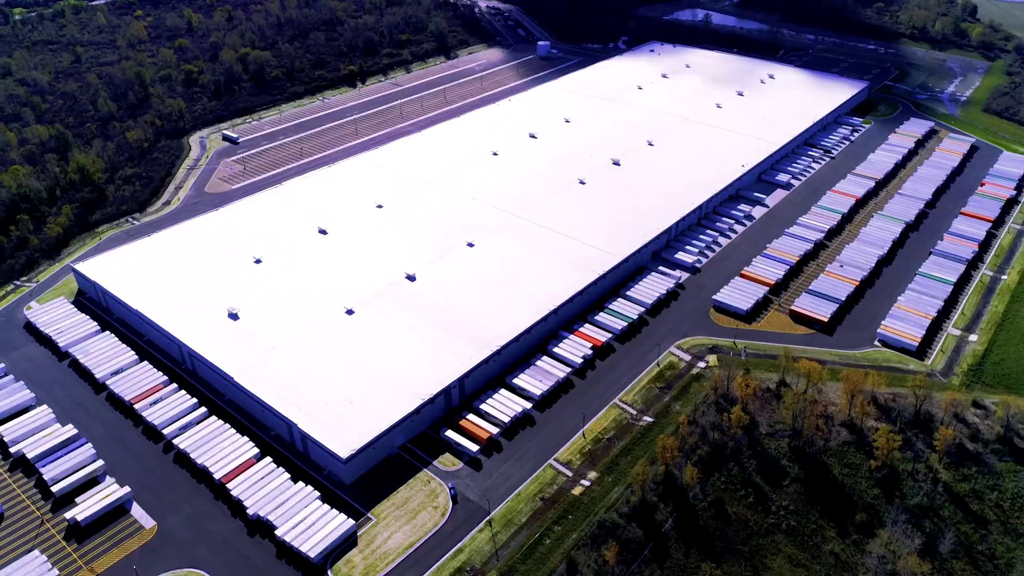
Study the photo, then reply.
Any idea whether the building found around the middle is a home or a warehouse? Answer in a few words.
warehouse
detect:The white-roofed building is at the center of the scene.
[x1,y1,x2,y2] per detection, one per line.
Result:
[70,40,869,485]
